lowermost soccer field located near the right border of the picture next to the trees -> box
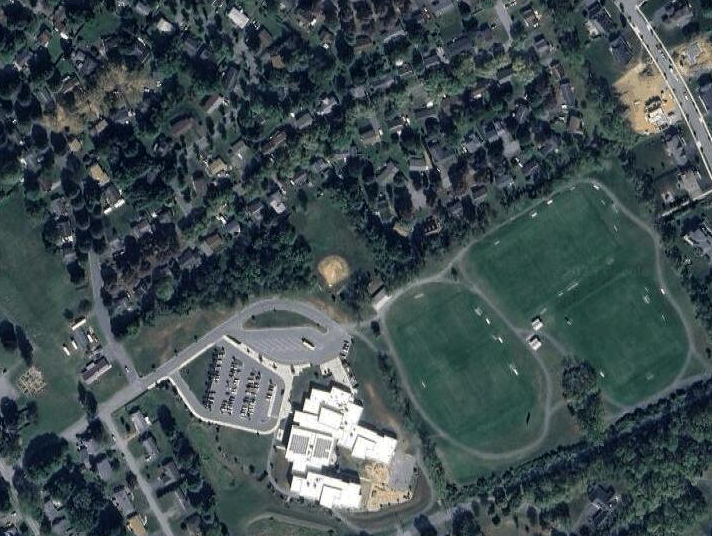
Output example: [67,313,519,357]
[539,265,686,398]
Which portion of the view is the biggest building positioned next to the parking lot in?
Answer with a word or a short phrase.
bottom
